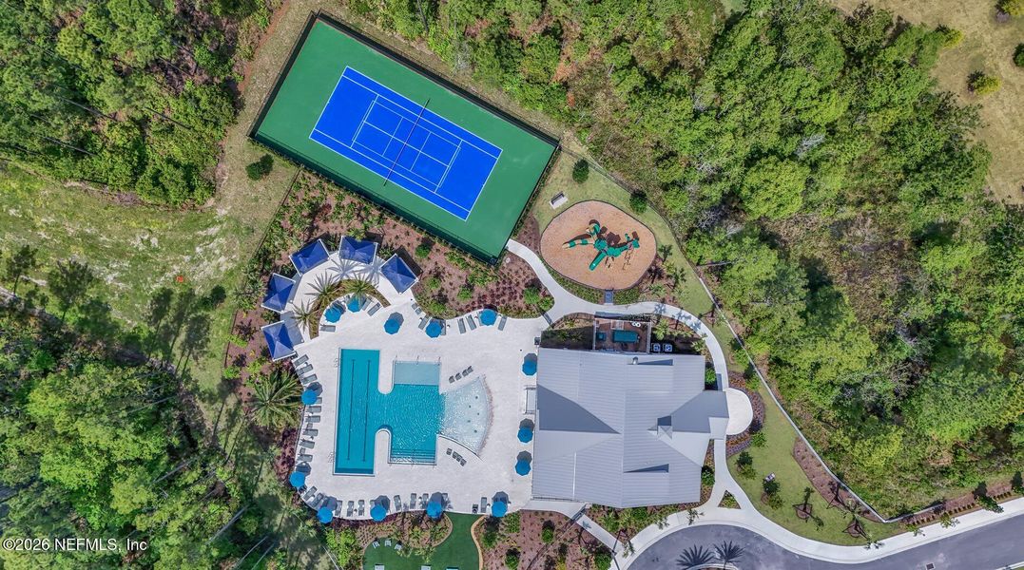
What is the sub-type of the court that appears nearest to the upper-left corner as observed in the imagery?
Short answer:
tennis court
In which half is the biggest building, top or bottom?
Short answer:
bottom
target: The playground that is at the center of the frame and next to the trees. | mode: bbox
[540,199,658,291]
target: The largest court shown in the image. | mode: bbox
[253,17,558,262]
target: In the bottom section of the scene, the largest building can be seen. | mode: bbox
[531,348,729,508]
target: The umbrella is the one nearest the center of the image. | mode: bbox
[480,308,496,324]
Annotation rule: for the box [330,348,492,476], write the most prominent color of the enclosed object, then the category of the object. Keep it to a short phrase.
blue swimming pool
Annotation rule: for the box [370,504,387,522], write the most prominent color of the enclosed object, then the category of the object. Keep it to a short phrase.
blue umbrella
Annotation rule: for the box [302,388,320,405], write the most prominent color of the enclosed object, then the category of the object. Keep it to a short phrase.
blue umbrella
